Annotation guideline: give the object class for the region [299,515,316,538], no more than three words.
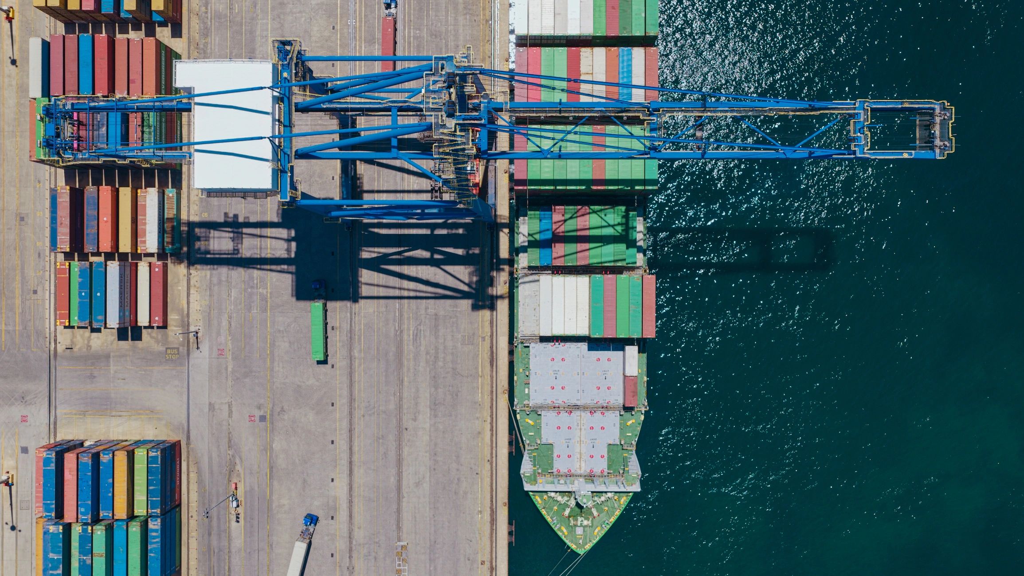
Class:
work vehicle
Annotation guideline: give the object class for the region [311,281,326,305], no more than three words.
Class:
work vehicle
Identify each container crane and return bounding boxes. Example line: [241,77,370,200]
[35,37,961,244]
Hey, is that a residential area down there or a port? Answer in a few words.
port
